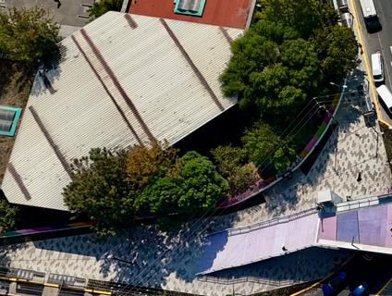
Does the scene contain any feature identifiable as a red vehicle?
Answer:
No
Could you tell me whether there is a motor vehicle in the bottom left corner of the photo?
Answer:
No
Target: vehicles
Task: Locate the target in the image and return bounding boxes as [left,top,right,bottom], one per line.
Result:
[371,52,386,84]
[320,267,350,296]
[348,283,371,296]
[361,0,382,23]
[375,84,392,118]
